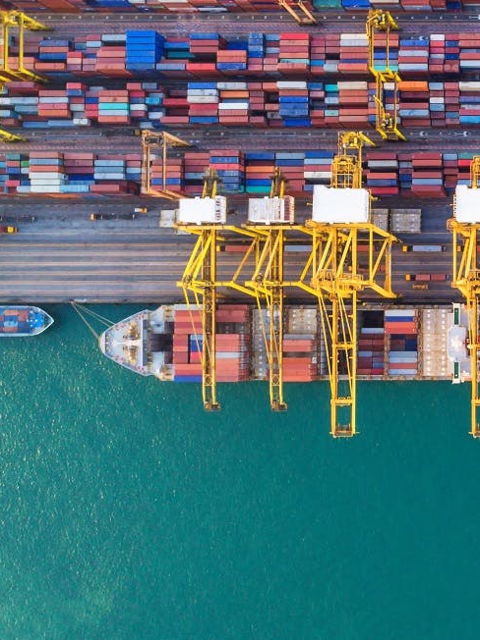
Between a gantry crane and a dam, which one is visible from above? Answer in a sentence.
This aerial view contains a gantry crane.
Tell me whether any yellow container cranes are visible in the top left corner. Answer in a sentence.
Yes, a yellow container crane shows up in the top left corner.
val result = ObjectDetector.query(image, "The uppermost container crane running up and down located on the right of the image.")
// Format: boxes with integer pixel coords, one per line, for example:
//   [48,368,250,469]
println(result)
[368,7,404,82]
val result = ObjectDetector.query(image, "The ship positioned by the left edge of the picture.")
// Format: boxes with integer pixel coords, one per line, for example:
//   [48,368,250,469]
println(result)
[0,305,58,336]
